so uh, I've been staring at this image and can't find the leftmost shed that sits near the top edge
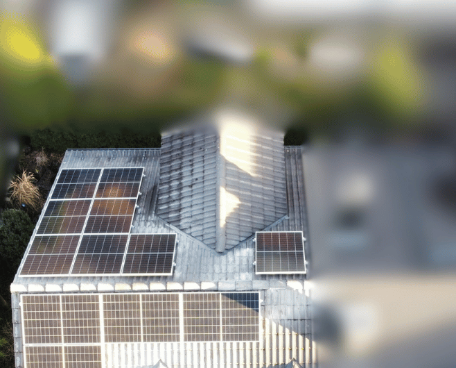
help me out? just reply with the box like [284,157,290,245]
[184,17,260,88]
